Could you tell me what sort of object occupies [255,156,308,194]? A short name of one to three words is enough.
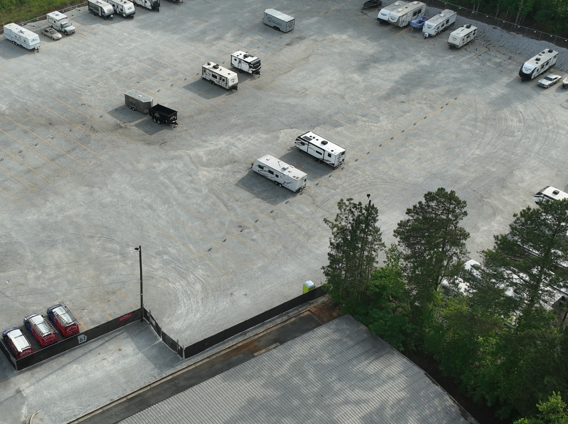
trailer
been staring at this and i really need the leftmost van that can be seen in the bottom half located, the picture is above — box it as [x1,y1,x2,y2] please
[1,322,37,356]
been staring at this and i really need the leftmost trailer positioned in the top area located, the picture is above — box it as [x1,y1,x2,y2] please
[5,23,44,54]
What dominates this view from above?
paved ground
